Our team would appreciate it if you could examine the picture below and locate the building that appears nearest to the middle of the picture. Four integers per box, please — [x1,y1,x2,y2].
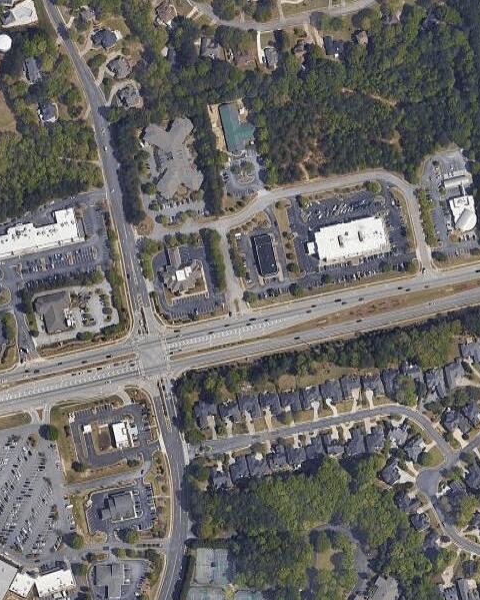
[252,235,278,276]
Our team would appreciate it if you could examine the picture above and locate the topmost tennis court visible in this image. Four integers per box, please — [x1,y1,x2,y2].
[194,547,229,584]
